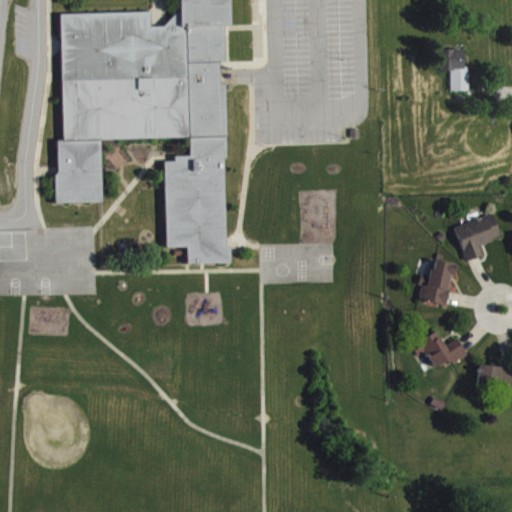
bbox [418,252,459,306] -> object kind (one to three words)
house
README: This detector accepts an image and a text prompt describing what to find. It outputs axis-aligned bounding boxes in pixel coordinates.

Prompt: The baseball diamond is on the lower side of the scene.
[22,391,90,468]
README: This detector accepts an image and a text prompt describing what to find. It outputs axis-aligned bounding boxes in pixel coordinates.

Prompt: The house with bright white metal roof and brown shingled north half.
[448,49,470,92]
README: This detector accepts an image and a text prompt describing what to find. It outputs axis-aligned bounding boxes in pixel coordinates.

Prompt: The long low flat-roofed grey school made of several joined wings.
[54,0,232,263]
